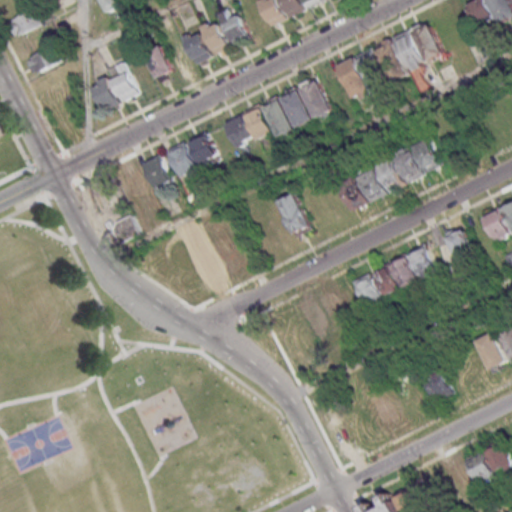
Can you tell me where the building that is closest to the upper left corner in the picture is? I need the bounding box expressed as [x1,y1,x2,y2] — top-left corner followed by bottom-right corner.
[8,18,44,38]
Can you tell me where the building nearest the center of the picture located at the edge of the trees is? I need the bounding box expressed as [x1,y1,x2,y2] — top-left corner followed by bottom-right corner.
[274,192,309,236]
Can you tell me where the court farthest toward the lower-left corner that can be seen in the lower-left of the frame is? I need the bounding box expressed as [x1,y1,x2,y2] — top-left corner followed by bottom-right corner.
[6,416,73,473]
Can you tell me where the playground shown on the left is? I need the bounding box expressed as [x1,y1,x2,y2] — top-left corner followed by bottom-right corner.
[134,386,198,458]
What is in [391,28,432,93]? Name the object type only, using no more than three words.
house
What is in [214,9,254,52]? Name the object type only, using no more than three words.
house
